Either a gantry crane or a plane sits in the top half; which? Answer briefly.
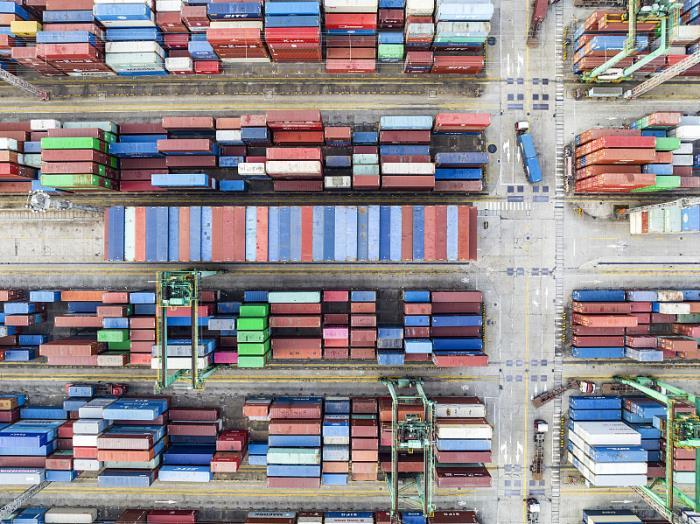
gantry crane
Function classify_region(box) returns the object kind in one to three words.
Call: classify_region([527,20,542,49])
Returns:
vehicle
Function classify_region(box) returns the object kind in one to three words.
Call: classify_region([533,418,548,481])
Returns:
vehicle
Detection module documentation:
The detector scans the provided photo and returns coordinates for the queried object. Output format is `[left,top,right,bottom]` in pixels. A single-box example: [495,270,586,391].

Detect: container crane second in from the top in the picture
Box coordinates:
[158,269,233,391]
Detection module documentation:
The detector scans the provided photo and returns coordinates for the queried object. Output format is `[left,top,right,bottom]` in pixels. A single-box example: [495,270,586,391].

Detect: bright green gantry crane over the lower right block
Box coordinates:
[609,380,700,523]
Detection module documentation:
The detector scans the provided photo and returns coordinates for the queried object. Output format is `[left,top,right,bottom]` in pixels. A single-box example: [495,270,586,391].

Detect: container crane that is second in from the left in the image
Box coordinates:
[378,383,434,522]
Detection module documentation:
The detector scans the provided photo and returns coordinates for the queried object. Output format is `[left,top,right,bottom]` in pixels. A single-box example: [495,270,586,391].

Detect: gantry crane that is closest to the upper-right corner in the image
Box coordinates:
[583,0,675,81]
